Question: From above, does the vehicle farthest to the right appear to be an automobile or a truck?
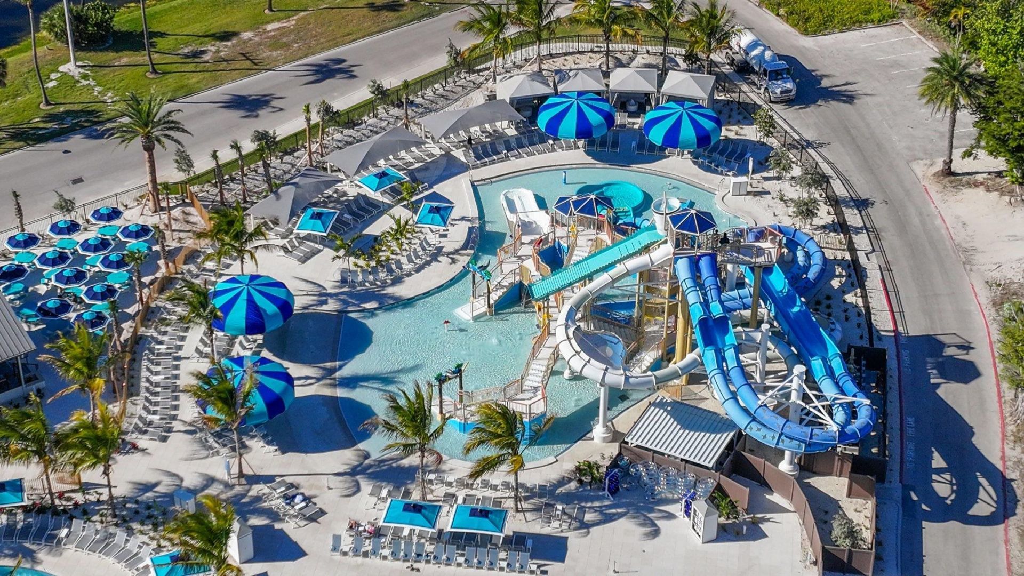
truck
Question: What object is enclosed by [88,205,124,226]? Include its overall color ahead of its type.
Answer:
blue umbrella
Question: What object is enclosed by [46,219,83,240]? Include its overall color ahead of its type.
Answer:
blue umbrella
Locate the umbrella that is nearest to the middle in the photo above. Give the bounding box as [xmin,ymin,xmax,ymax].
[415,202,455,242]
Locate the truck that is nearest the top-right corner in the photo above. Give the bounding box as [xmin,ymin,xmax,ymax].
[725,21,800,106]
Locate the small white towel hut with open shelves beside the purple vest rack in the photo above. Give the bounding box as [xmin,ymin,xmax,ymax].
[690,496,720,544]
